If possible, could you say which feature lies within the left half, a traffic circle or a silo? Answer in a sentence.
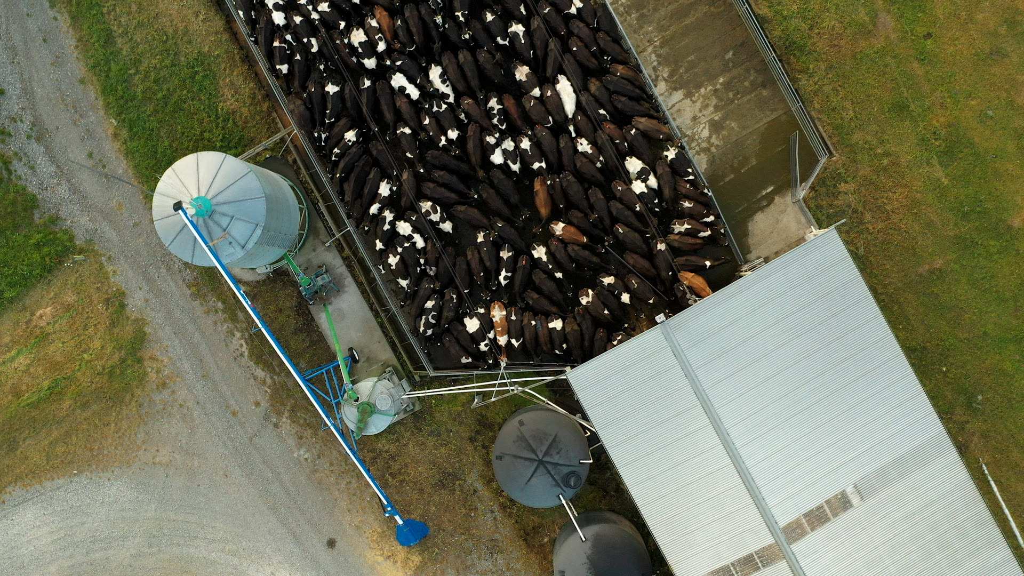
It is a silo that can be seen within the left half.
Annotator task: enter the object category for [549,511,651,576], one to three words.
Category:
water tank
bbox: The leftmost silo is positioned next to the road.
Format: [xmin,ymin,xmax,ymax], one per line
[151,151,309,276]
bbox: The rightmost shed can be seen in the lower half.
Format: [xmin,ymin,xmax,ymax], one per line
[563,226,1024,576]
